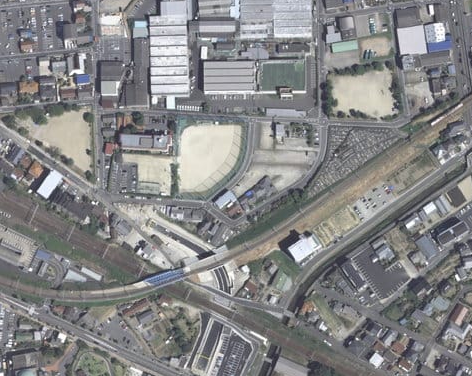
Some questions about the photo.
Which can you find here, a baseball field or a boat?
baseball field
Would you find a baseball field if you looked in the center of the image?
Yes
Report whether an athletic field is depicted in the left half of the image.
Yes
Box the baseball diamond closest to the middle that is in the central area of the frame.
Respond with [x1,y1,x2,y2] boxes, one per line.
[175,120,246,200]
